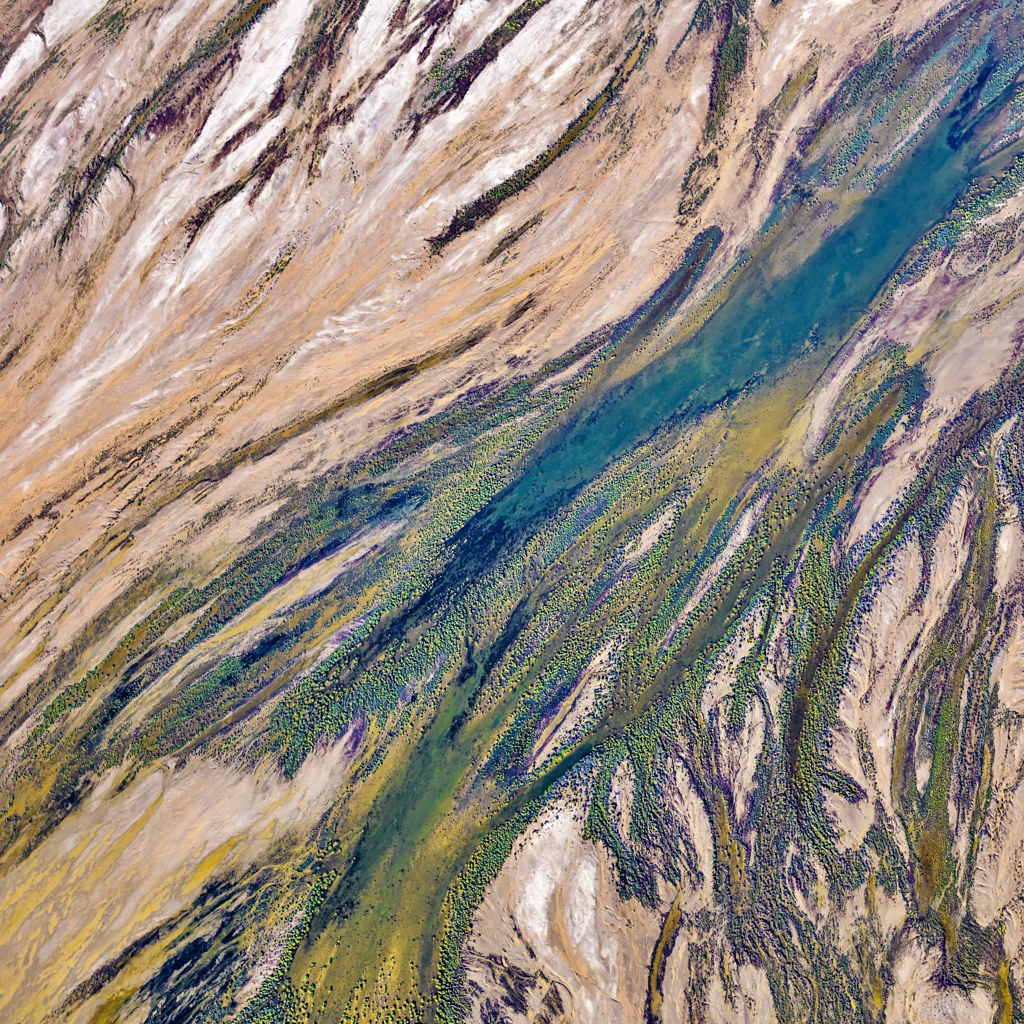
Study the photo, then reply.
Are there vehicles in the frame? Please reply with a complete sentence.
No, there's no vehicle here.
